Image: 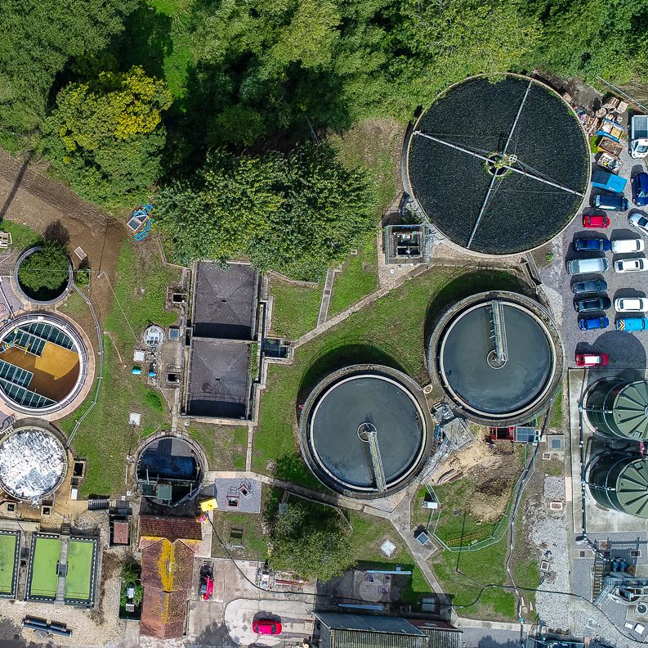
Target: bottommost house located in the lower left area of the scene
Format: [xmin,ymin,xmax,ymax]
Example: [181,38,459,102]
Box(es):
[138,514,202,638]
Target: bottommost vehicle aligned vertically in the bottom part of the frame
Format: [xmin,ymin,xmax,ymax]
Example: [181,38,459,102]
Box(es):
[196,558,214,600]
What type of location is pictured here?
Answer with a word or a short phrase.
industrial area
